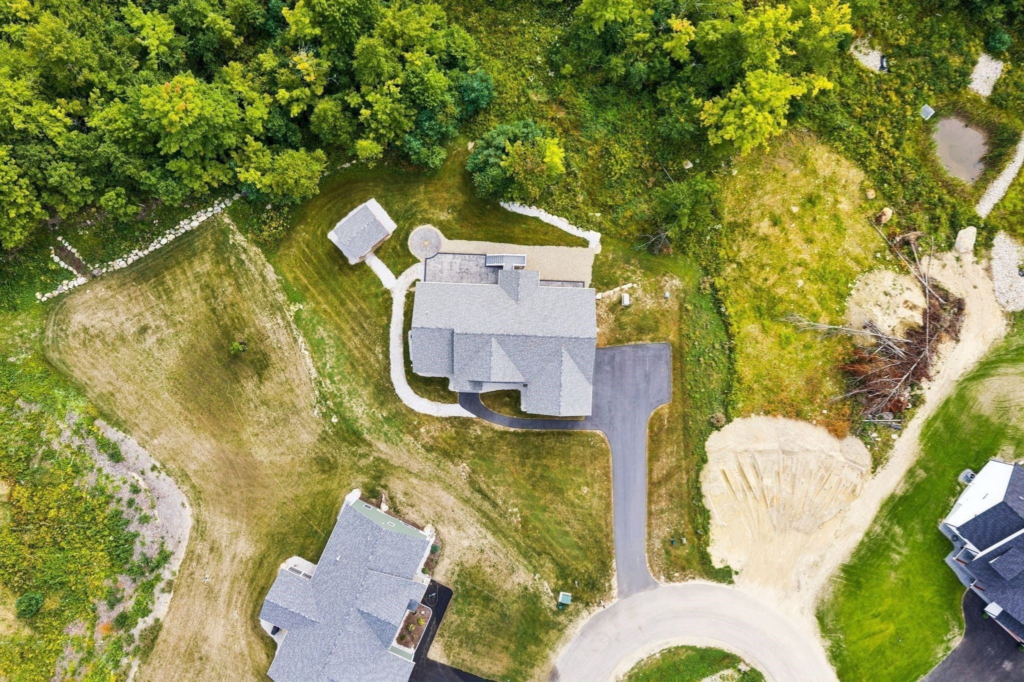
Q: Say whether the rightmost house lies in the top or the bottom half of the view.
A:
bottom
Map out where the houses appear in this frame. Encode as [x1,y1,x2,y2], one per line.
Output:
[259,498,431,682]
[940,460,1024,642]
[411,269,597,416]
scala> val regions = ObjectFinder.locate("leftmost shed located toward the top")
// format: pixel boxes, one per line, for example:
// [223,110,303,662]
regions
[334,205,389,259]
